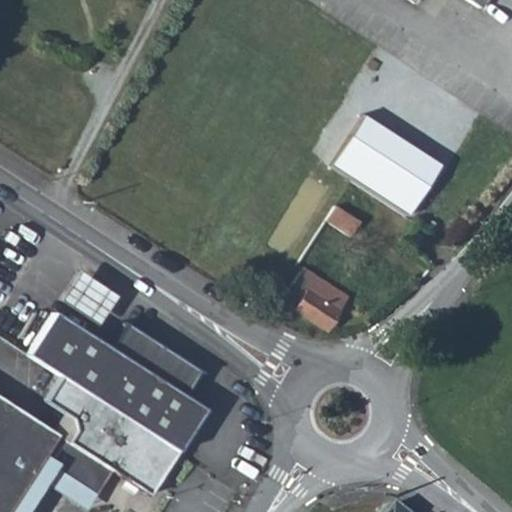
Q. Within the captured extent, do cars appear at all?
Yes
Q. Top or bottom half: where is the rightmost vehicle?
top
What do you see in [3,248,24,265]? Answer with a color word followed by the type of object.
white car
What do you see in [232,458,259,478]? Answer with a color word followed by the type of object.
white vehicle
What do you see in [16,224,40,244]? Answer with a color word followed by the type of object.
white vehicle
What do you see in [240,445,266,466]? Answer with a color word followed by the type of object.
white truck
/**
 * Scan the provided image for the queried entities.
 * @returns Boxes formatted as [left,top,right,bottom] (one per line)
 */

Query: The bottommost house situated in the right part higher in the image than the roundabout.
[298,267,350,334]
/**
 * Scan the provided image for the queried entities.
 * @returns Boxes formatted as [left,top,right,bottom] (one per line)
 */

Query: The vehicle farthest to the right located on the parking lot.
[485,4,510,24]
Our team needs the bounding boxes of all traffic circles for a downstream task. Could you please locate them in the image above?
[292,369,412,489]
